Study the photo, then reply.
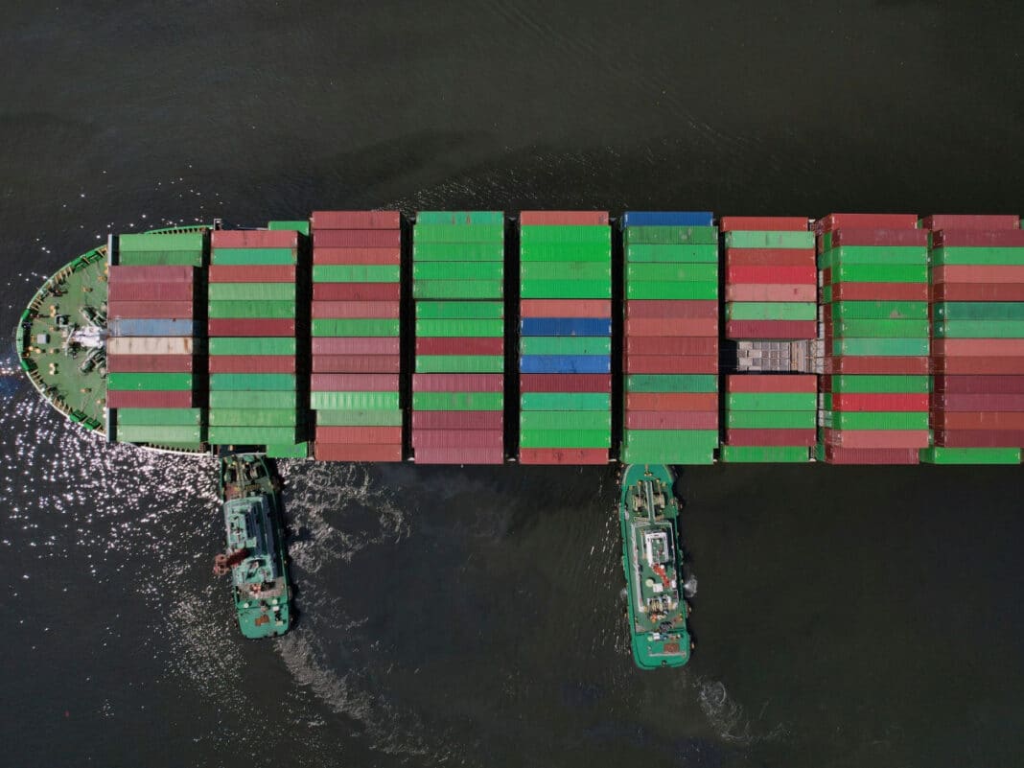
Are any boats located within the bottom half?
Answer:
Yes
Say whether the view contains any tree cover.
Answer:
No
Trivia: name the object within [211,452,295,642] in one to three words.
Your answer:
boat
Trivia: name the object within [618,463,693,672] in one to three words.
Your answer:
boat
